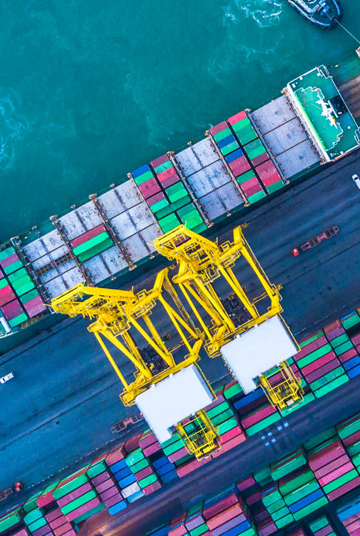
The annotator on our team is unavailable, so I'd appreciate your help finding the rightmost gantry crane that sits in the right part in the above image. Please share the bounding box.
[151,217,308,418]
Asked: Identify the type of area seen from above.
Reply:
port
